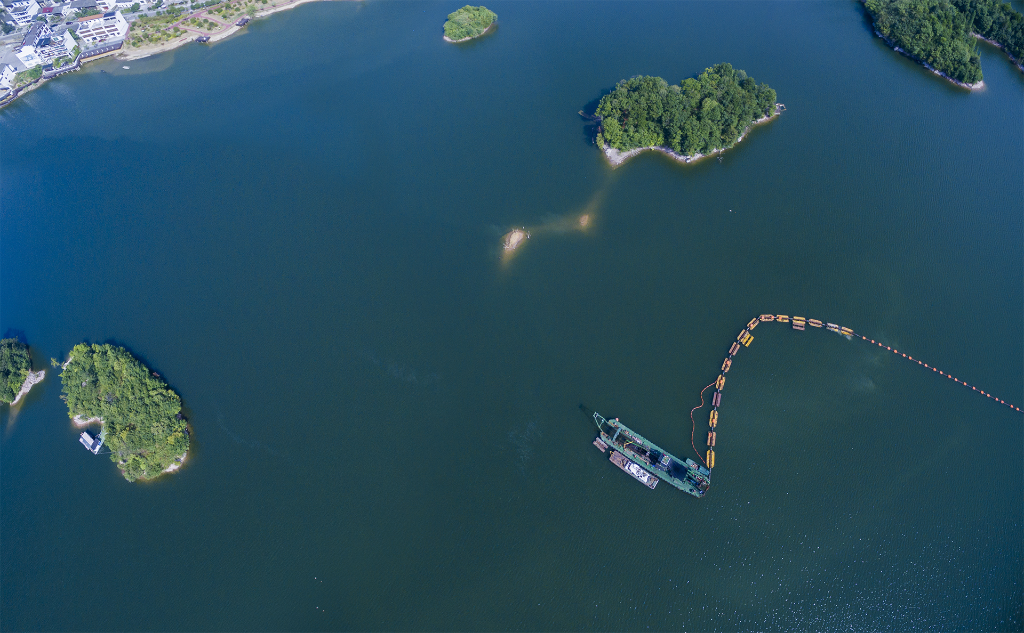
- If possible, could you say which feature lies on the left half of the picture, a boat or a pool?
boat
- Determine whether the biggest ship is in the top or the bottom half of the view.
bottom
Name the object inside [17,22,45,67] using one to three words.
house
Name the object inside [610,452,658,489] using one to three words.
ship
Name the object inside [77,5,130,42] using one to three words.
building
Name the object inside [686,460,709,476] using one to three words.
boat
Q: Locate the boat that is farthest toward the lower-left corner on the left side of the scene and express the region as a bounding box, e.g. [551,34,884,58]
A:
[79,432,105,455]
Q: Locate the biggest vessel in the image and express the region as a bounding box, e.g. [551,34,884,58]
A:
[593,411,709,501]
